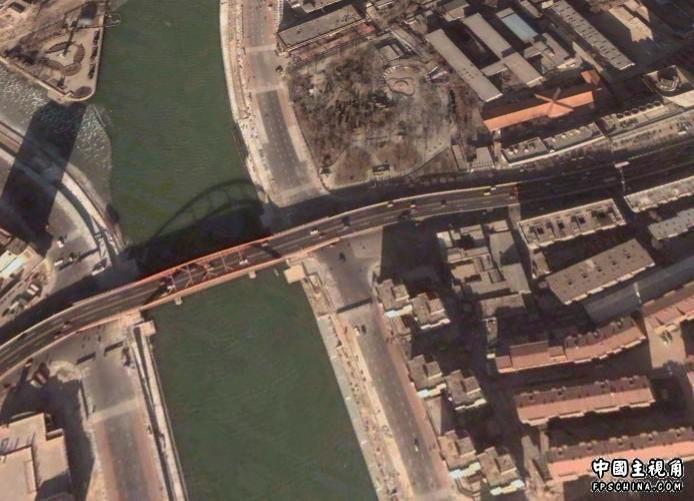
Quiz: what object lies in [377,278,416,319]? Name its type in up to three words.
building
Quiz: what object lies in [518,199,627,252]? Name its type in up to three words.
building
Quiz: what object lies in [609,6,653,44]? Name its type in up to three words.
house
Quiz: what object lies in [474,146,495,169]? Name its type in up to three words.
house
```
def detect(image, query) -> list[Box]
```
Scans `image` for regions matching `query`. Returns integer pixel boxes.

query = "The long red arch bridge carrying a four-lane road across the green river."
[0,175,569,381]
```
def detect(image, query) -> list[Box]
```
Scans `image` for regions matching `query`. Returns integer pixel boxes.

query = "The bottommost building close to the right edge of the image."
[546,426,694,485]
